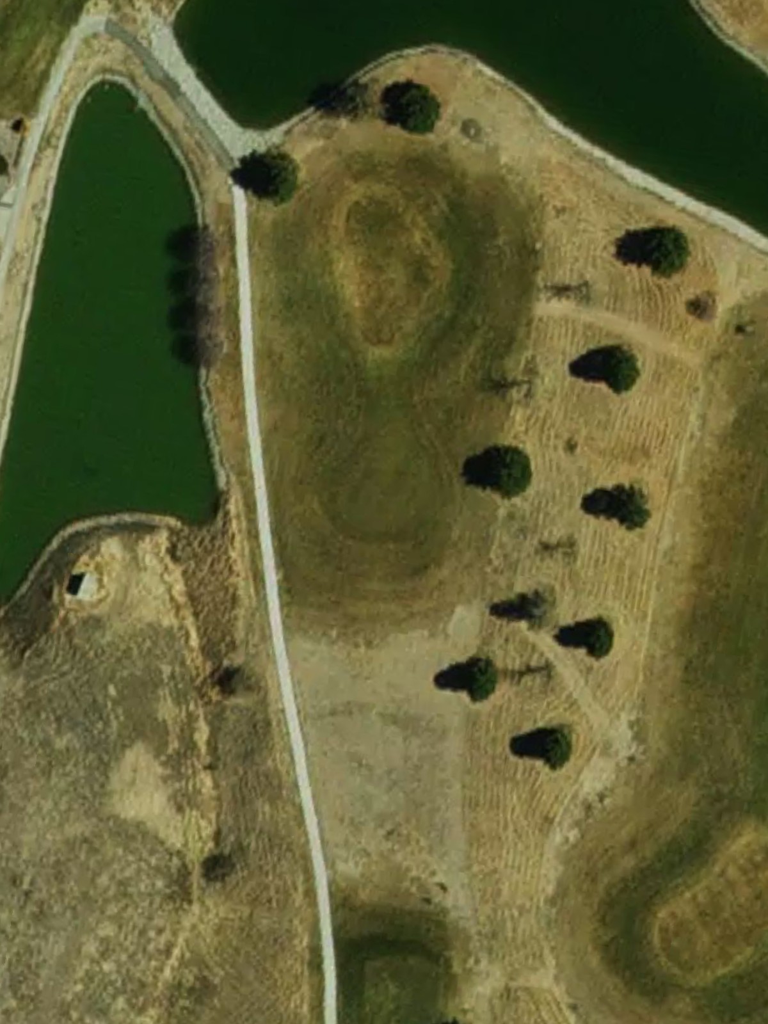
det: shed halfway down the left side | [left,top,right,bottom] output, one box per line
[79,574,100,601]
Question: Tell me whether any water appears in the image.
Yes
